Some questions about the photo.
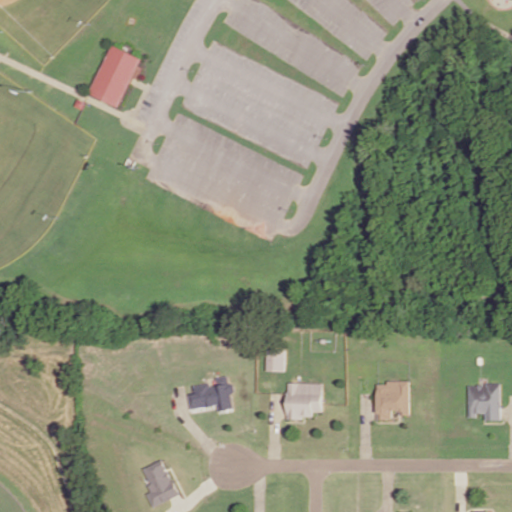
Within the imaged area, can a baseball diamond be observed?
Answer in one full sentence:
Yes, a baseball diamond can be made out from above.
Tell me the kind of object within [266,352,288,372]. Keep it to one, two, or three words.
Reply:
shed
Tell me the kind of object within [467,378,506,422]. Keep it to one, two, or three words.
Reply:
house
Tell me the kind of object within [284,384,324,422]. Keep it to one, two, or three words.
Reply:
house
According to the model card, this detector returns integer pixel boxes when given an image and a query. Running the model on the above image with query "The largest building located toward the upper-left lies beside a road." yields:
[90,48,141,107]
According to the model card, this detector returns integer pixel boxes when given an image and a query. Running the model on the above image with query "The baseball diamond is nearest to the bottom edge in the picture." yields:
[0,72,96,268]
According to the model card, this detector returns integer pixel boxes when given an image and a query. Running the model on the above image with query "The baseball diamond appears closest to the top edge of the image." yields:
[0,0,109,67]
